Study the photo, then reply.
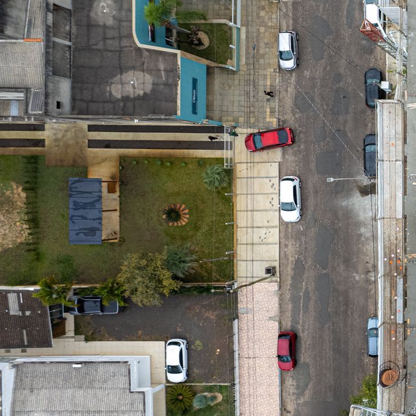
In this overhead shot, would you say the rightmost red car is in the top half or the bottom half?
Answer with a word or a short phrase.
bottom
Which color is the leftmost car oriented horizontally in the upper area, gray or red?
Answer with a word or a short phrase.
red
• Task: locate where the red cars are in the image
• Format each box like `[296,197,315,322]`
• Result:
[272,331,296,373]
[243,127,292,152]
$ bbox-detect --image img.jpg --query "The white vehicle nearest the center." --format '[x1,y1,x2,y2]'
[275,176,299,223]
